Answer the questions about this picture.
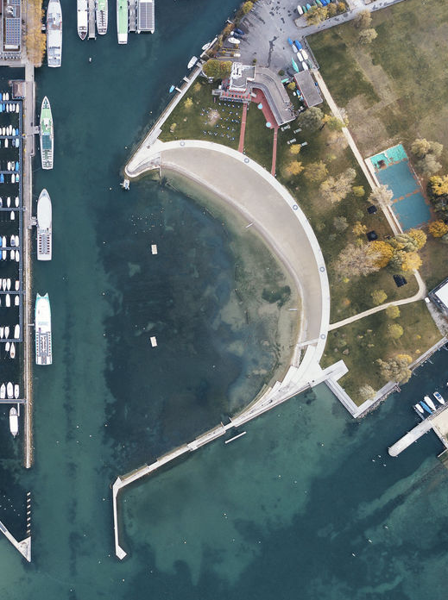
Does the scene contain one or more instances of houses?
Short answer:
Yes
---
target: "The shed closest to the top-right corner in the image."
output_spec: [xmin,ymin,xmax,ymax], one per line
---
[293,71,323,107]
